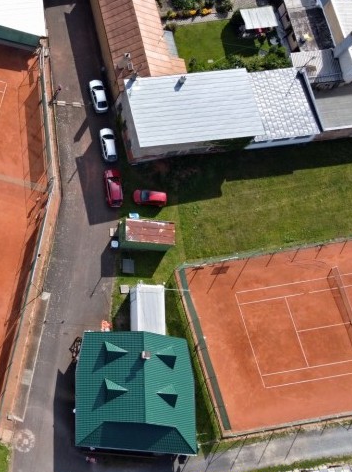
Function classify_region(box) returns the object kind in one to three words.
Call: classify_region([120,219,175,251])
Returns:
shed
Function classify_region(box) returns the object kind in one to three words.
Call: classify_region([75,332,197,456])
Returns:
building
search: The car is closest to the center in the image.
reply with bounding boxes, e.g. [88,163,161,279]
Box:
[131,188,168,208]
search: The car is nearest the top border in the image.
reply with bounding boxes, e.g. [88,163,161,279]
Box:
[89,80,109,114]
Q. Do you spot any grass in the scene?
Yes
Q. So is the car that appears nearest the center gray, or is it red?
red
